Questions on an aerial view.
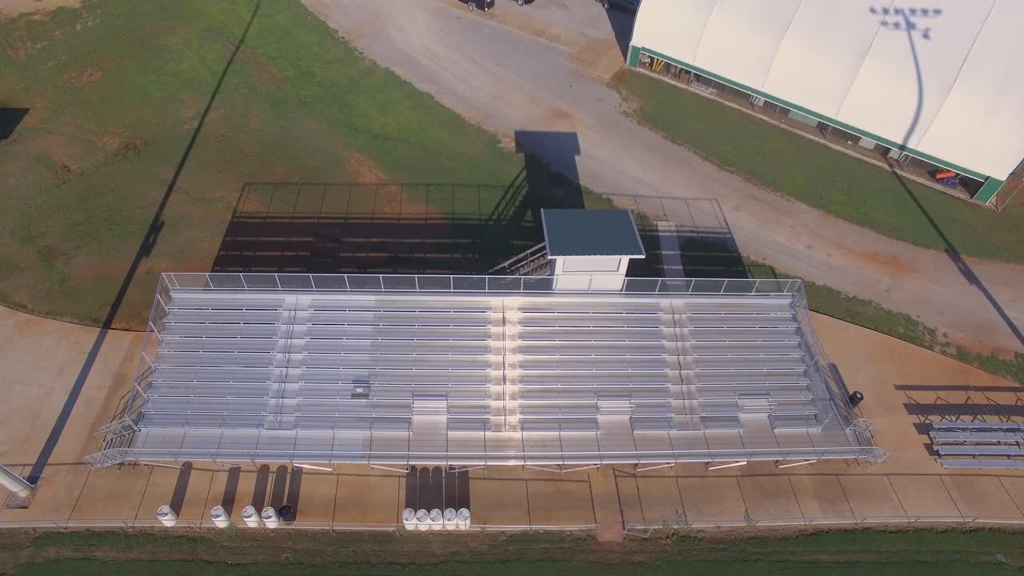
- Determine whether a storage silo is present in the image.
No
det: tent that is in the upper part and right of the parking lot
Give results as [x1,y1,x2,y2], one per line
[624,0,1024,207]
